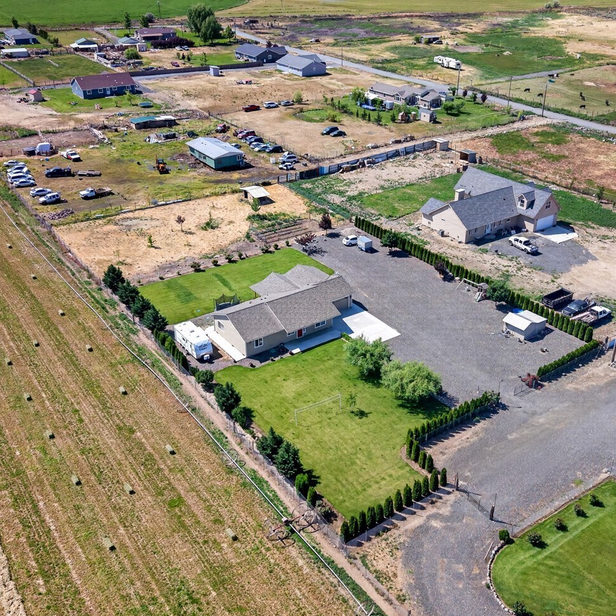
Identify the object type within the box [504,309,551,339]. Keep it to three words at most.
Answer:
shed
